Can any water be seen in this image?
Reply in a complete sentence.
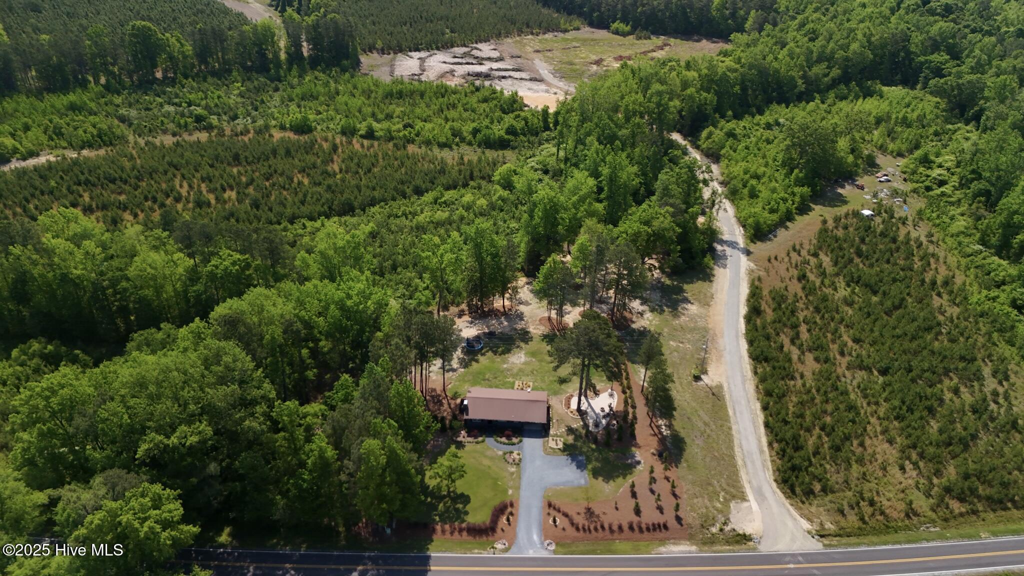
No, no water is visible.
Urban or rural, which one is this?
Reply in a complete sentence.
The land in this view is best described as rural.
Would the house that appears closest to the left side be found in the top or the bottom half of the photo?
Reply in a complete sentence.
Seen from above, the house that appears closest to the left side lies in the bottom half of the view.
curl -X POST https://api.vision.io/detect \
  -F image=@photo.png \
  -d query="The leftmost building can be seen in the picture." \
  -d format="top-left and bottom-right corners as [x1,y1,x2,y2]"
[462,388,548,433]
